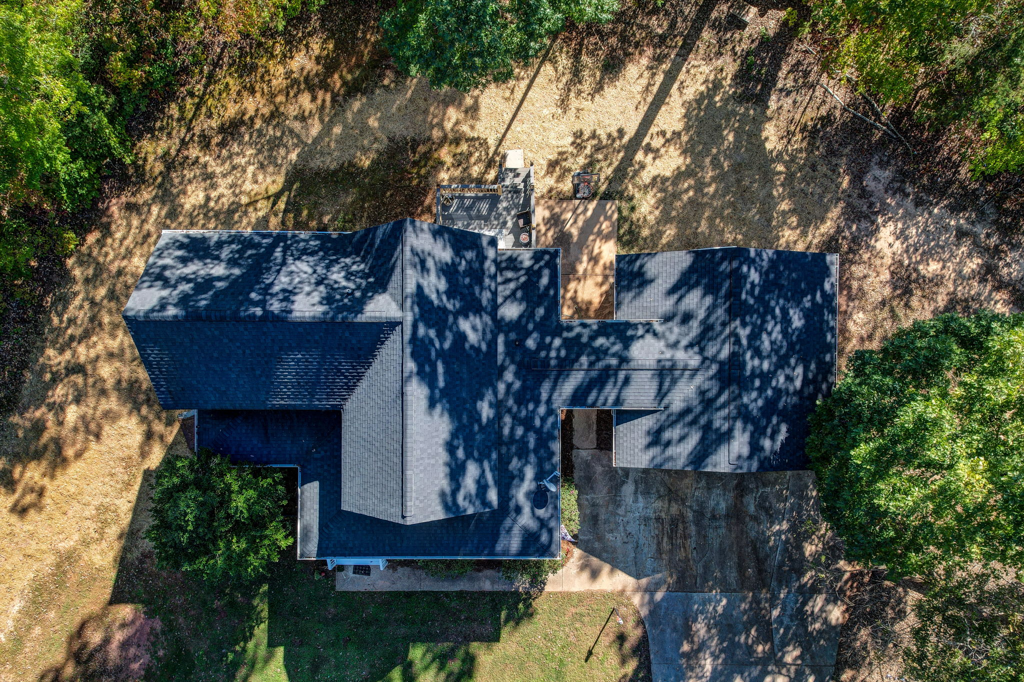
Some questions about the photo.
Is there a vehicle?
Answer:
No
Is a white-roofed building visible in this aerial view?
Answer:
No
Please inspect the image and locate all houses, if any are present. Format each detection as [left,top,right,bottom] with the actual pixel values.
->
[125,219,837,570]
